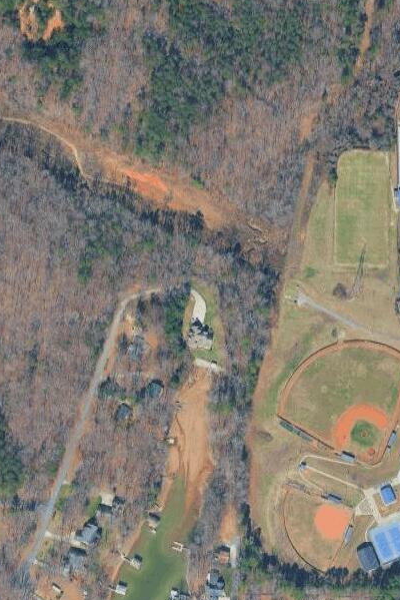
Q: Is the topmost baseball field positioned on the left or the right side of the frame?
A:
right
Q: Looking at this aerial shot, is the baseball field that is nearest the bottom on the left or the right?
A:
right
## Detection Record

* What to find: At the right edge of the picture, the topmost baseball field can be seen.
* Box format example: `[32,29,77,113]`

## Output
[278,339,400,467]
